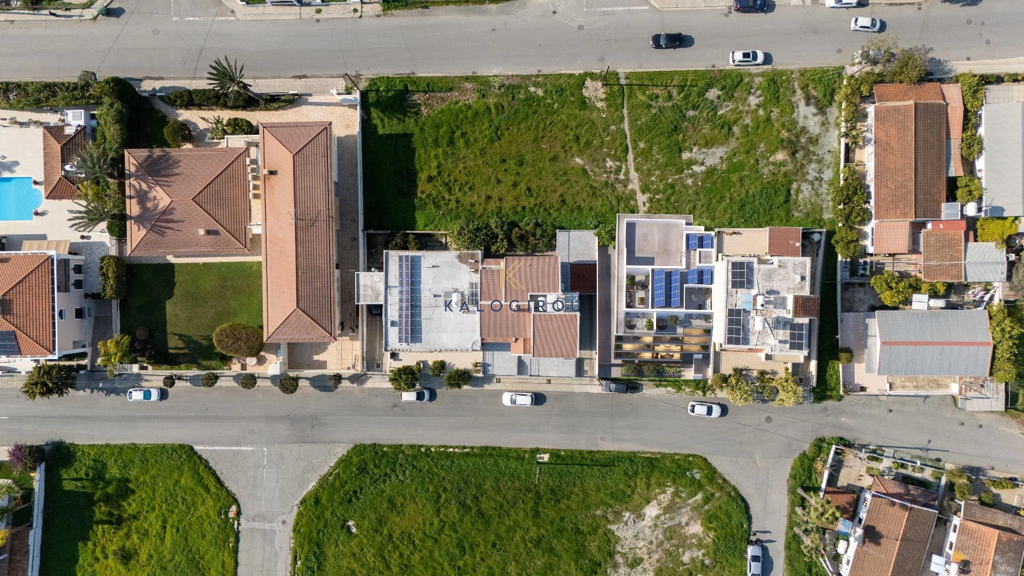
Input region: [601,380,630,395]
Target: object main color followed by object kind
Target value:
gray car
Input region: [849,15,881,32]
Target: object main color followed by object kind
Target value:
white car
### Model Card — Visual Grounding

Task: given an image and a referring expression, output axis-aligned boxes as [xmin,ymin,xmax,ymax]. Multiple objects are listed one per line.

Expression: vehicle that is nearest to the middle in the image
[502,391,534,408]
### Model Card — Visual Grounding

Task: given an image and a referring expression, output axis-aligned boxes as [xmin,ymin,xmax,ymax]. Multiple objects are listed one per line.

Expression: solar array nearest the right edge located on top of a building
[791,323,806,351]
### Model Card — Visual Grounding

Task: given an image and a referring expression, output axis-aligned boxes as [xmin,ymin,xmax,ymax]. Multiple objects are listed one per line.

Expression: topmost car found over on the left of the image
[368,304,384,326]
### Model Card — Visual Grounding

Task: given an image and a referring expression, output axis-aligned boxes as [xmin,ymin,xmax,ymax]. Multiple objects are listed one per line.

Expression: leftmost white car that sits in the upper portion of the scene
[729,48,764,66]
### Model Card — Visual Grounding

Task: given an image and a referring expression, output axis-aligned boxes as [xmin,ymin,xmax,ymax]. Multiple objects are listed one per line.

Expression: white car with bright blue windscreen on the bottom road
[127,387,162,403]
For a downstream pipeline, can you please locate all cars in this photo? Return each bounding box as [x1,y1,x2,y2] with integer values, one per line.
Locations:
[687,401,721,419]
[601,380,630,395]
[729,48,764,66]
[502,391,534,408]
[399,388,430,404]
[732,0,766,13]
[650,30,684,48]
[127,387,162,403]
[747,545,764,576]
[824,0,859,9]
[368,304,384,326]
[849,15,881,32]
